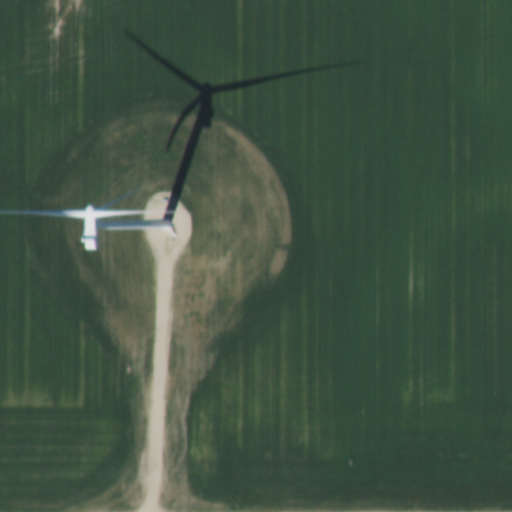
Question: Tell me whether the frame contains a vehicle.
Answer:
No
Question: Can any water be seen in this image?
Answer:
No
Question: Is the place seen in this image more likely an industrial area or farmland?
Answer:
farmland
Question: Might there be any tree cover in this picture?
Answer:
No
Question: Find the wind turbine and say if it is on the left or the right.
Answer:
left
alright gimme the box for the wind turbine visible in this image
[0,190,217,250]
